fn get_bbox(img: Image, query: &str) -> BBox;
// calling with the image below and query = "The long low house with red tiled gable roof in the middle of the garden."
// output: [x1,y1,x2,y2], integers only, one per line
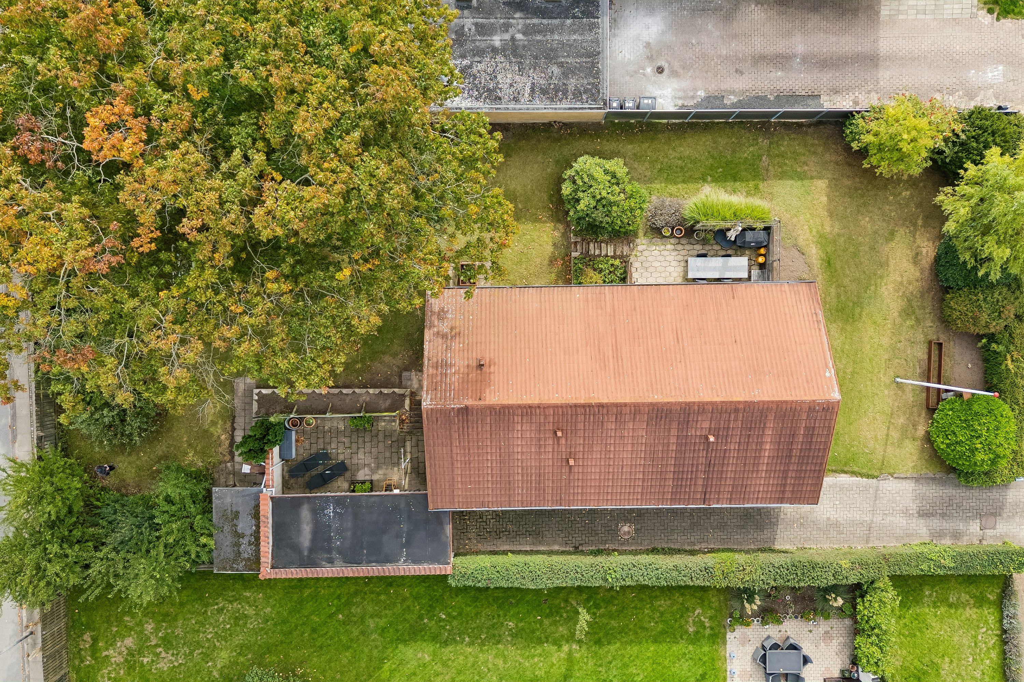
[421,279,842,513]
